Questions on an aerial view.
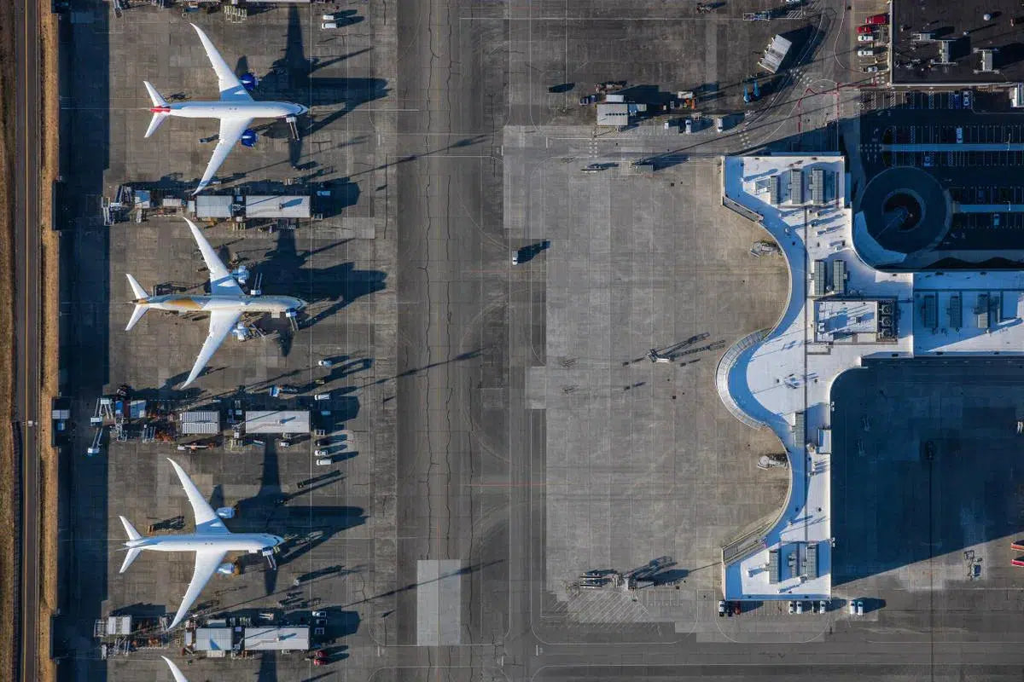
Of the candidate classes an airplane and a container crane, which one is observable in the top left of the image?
airplane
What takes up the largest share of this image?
paved ground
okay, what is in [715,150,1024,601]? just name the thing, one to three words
building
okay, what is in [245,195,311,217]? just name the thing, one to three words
shed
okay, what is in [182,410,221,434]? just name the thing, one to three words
shed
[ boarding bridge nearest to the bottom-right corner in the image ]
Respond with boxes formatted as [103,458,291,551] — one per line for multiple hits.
[756,455,789,469]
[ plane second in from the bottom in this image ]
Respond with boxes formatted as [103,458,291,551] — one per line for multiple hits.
[116,458,285,631]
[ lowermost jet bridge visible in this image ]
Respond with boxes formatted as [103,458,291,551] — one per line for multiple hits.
[611,574,637,592]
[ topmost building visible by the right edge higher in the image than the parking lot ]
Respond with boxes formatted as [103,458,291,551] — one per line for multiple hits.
[886,0,1024,86]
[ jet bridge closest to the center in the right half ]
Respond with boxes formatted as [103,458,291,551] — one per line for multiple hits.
[644,351,677,363]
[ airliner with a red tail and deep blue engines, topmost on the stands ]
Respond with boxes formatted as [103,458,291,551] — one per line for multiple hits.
[139,23,308,196]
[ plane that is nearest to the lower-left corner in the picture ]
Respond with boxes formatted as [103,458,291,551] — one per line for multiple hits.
[161,658,186,682]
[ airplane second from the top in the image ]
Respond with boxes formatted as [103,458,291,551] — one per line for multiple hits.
[121,218,309,391]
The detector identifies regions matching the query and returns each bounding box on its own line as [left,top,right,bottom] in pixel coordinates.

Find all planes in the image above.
[161,658,186,682]
[116,458,285,631]
[121,218,309,391]
[139,23,308,196]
